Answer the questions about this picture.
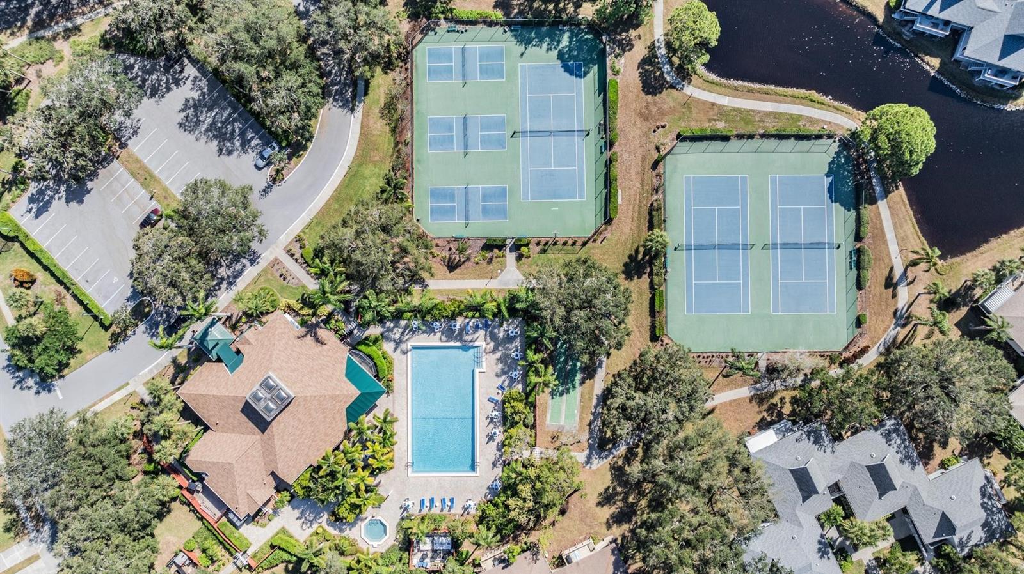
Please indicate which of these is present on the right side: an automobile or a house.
house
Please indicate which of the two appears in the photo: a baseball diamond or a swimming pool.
swimming pool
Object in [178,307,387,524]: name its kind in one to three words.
building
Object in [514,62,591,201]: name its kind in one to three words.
tennis court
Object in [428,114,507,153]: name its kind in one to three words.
sports court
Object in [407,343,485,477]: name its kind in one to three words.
swimming pool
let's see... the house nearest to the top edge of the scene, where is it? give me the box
[890,0,1024,90]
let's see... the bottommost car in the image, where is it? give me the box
[135,205,161,230]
